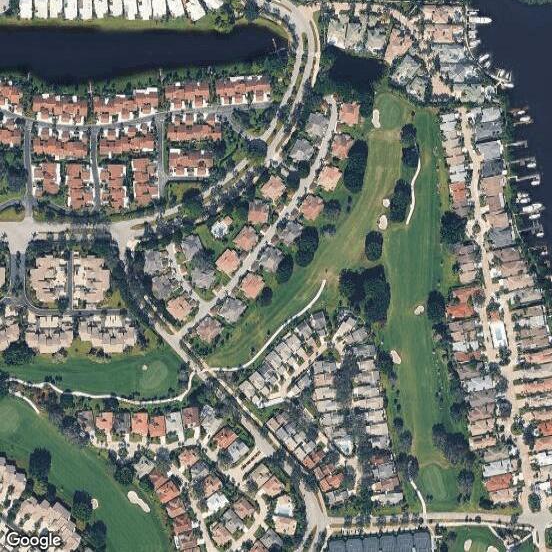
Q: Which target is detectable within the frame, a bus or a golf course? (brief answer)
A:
golf course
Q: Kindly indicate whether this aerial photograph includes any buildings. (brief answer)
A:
Yes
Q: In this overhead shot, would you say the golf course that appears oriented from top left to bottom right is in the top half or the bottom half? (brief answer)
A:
bottom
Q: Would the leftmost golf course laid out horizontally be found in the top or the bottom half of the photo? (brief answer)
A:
bottom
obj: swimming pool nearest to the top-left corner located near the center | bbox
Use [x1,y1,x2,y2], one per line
[211,224,228,236]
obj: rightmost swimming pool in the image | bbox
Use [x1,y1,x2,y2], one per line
[490,318,508,349]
